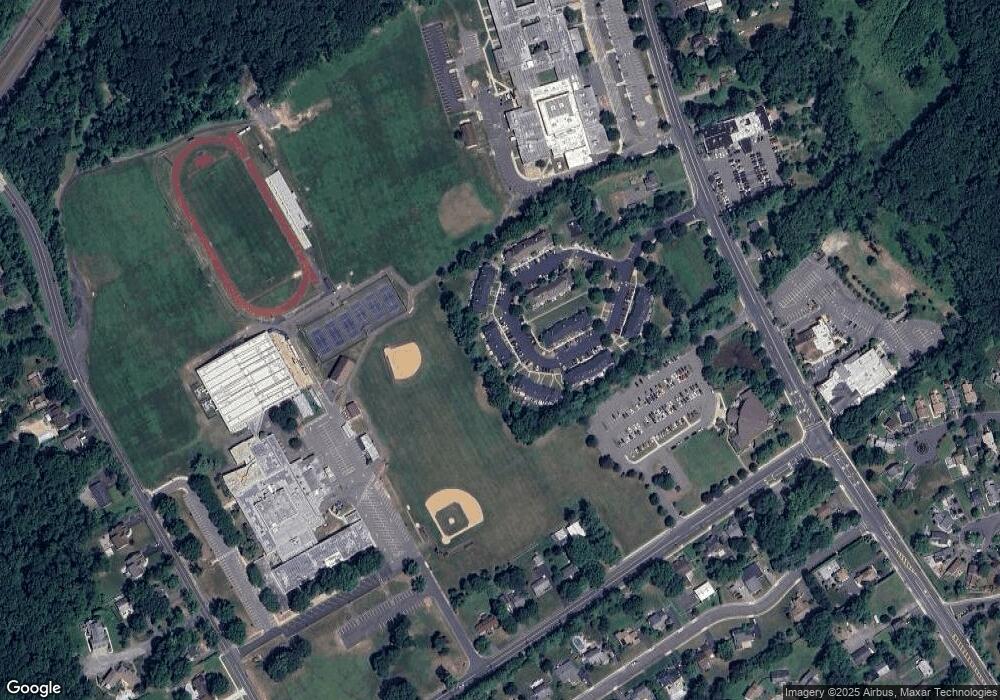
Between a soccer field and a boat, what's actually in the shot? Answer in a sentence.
This aerial view contains a soccer field.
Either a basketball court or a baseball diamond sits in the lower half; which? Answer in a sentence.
You can see a baseball diamond in the lower half.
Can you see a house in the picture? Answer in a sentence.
Yes, a house appears in the view.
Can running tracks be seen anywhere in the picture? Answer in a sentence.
Yes, I can see a running track in this picture.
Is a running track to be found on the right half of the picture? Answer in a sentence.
No, no running track is visible on the right half of the picture.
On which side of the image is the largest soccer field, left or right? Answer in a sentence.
The largest soccer field sits on the left side.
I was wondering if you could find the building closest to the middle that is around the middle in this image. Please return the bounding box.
[483,320,515,367]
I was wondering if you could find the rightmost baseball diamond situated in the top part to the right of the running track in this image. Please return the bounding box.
[440,184,497,235]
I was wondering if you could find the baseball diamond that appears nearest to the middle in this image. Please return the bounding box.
[382,340,423,381]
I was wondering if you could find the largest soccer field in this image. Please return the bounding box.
[181,144,300,308]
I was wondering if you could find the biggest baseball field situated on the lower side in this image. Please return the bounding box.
[426,489,482,548]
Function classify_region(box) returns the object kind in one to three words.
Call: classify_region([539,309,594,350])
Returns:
building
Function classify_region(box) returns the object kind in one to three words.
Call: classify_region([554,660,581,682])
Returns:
house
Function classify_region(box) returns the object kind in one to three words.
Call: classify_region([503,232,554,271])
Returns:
building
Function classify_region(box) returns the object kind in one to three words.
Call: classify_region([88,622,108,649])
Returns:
house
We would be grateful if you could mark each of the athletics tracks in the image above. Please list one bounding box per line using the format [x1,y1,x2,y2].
[171,132,318,317]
